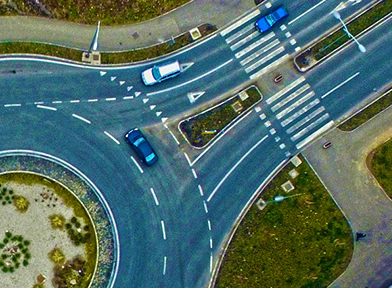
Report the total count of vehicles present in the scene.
3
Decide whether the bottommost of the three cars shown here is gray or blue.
blue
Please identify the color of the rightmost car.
blue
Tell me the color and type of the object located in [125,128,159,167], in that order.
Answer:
blue car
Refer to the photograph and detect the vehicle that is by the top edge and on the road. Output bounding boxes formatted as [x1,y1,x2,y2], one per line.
[254,3,290,33]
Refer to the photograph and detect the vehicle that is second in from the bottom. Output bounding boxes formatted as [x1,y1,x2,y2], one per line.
[141,60,183,88]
